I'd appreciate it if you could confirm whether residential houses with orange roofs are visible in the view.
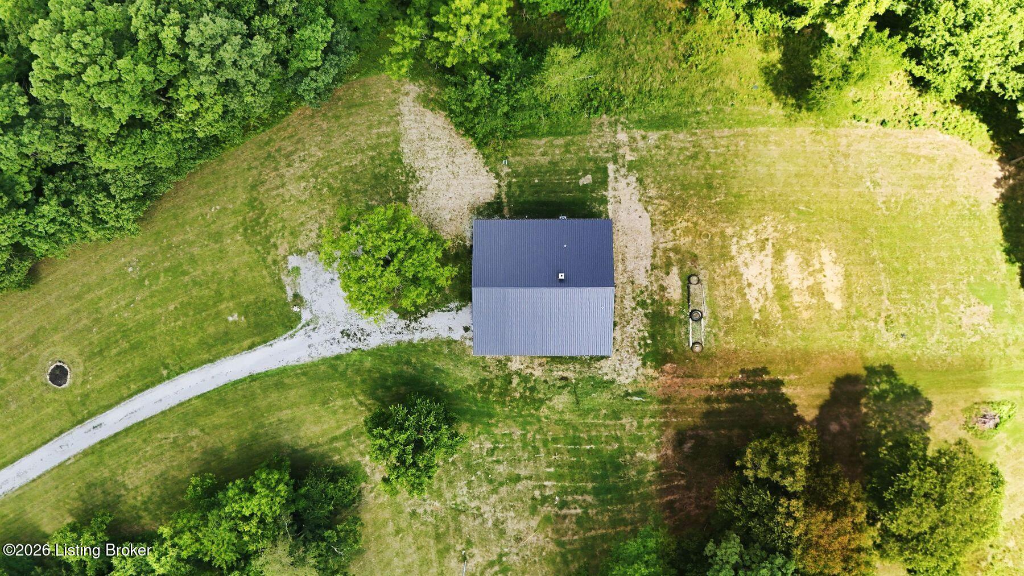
No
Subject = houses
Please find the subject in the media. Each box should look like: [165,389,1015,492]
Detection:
[471,219,616,357]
